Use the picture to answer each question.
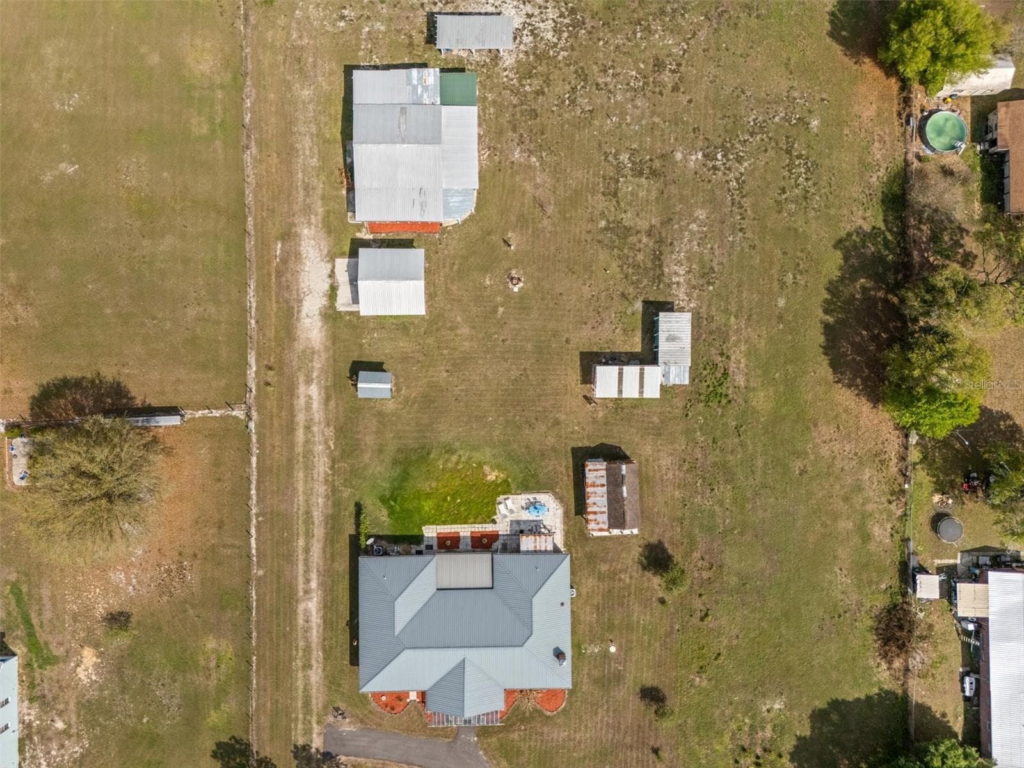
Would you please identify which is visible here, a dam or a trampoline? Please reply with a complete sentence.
I can see a trampoline in this picture.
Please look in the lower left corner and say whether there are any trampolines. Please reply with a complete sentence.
No, no trampoline is visible in the lower left corner.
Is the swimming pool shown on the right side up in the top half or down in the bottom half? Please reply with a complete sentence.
Seen from above, the swimming pool shown on the right side lies in the top half of the view.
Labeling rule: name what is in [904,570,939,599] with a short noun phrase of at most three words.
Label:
shed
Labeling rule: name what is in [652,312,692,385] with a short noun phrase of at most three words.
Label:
shed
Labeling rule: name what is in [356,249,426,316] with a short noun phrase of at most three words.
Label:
building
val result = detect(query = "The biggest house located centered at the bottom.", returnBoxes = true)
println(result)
[357,549,572,722]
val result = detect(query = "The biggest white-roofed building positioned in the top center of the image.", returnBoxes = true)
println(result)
[352,68,478,226]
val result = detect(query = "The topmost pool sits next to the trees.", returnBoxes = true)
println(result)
[918,111,968,157]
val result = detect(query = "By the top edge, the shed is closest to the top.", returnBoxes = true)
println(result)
[434,15,513,62]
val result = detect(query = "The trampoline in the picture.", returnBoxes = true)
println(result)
[930,516,962,543]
